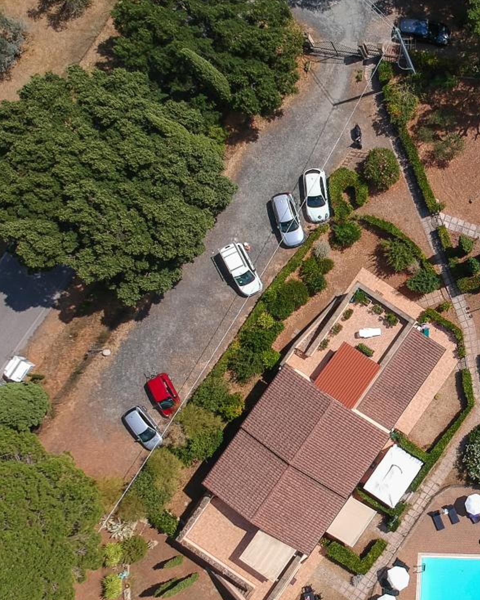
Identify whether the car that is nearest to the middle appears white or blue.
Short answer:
white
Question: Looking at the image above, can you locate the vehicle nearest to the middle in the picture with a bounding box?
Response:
[220,242,262,299]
